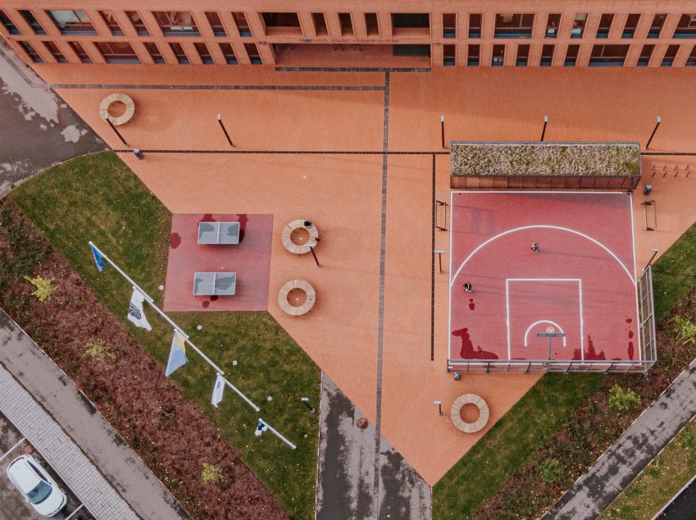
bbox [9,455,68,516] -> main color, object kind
white car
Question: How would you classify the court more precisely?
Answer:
basketball court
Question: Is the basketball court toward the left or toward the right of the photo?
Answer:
right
